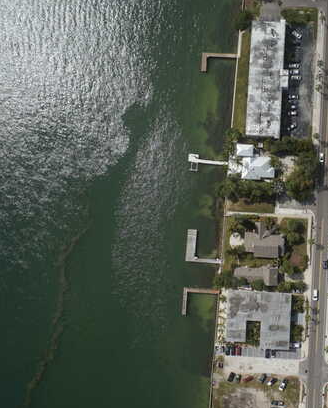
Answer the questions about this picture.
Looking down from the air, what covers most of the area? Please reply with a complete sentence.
What you mostly see from above here is water.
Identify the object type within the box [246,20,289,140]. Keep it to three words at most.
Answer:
building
